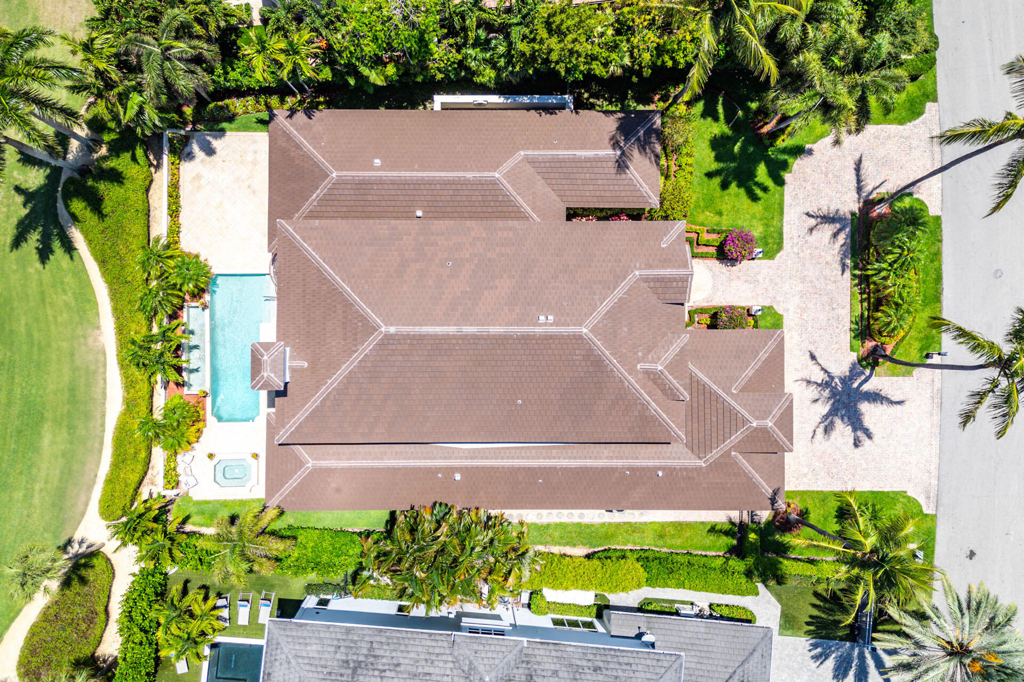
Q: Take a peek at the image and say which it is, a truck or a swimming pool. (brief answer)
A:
swimming pool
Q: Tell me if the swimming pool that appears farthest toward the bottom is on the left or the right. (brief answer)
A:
left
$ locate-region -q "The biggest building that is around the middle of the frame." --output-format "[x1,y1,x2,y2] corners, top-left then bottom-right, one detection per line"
[249,107,795,513]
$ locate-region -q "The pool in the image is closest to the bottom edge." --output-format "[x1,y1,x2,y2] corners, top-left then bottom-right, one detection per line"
[203,638,263,682]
